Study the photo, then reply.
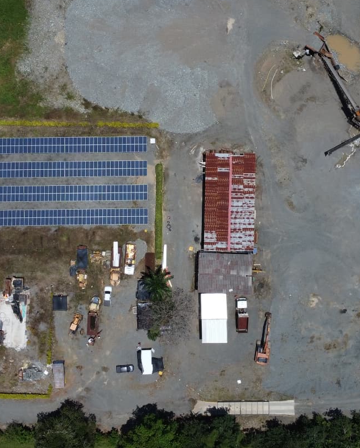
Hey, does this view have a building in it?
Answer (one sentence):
Yes, the frame does contain a building.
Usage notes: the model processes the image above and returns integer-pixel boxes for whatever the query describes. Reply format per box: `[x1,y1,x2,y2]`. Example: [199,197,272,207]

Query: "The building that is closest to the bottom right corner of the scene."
[201,293,228,343]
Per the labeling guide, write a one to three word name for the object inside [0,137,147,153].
solar array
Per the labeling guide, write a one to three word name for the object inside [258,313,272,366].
vehicle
